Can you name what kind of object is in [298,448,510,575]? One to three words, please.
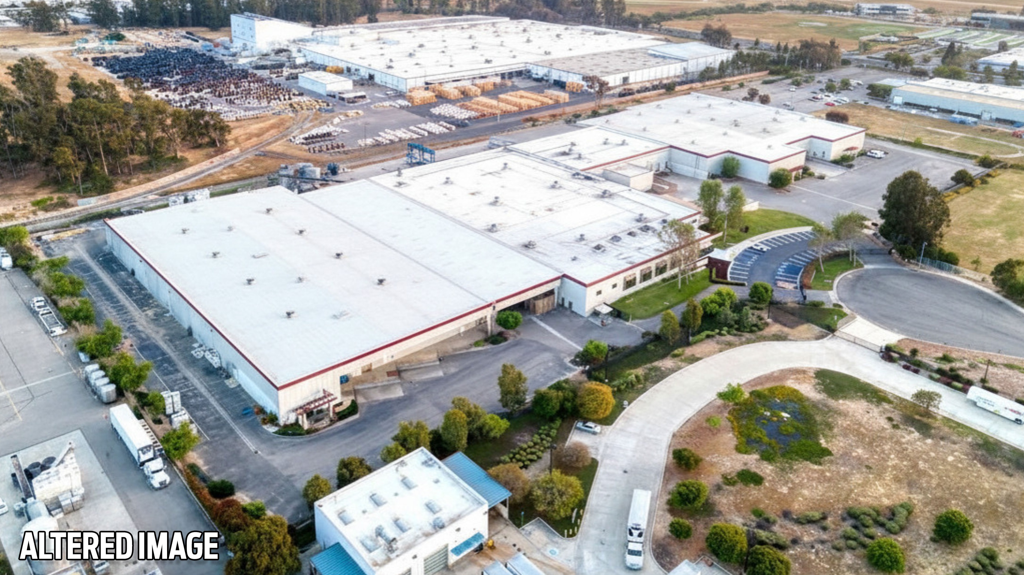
building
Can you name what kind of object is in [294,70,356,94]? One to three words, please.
shed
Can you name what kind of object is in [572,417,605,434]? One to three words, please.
vehicle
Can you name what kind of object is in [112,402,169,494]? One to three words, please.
truck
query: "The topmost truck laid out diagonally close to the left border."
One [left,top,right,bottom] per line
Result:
[30,292,67,337]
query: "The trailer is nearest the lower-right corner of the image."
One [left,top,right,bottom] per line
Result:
[962,388,1024,432]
